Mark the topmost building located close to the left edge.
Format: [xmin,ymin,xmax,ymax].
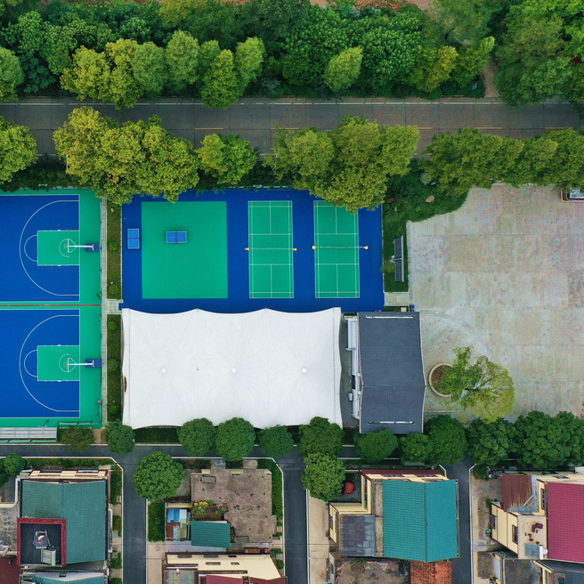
[0,469,112,566]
